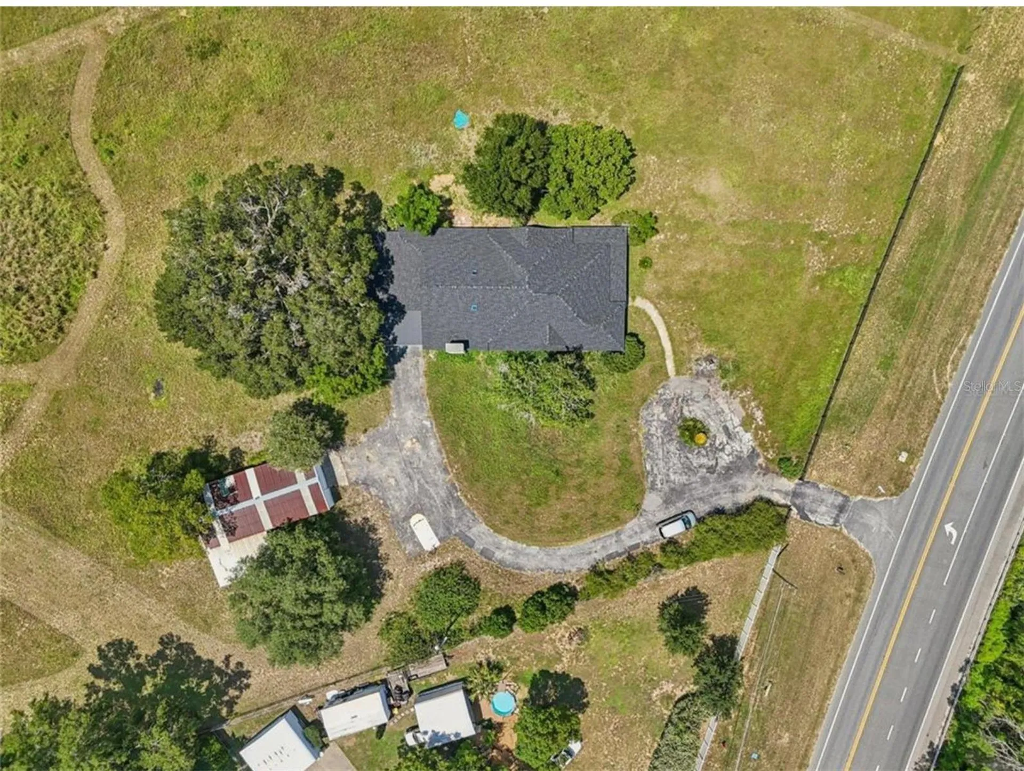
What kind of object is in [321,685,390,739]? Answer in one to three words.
shed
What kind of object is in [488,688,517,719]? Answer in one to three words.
swimming pool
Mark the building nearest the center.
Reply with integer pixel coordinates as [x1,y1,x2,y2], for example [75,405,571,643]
[387,226,629,355]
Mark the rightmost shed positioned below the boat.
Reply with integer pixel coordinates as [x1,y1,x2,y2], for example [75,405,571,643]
[415,681,475,747]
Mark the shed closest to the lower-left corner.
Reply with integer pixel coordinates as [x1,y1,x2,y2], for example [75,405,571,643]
[240,710,320,771]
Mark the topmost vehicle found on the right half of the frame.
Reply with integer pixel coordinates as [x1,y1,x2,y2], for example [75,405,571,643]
[657,511,696,537]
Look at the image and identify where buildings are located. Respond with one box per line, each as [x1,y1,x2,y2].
[321,685,390,739]
[415,681,475,747]
[240,710,320,771]
[200,449,334,587]
[387,226,629,355]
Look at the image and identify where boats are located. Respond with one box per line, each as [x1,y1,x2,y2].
[412,513,441,553]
